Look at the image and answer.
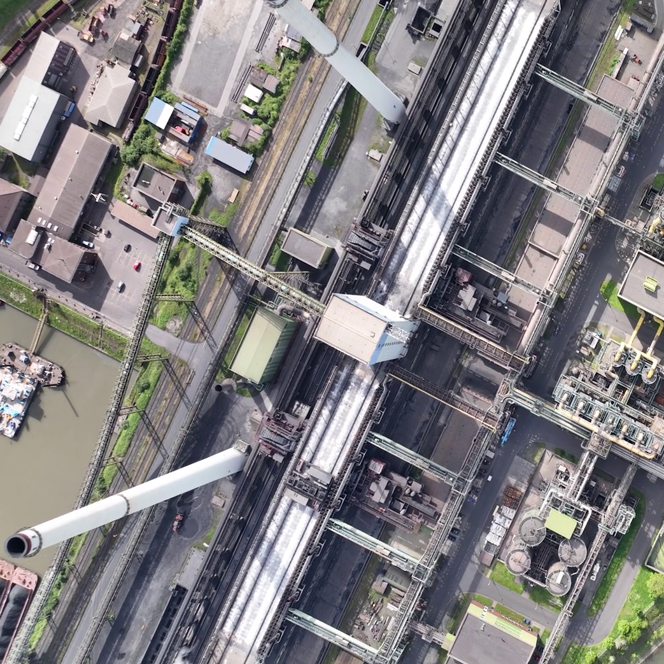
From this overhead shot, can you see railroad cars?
Yes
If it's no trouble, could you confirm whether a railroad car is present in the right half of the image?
No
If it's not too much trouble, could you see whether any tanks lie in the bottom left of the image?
No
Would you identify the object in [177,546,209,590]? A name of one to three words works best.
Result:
house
